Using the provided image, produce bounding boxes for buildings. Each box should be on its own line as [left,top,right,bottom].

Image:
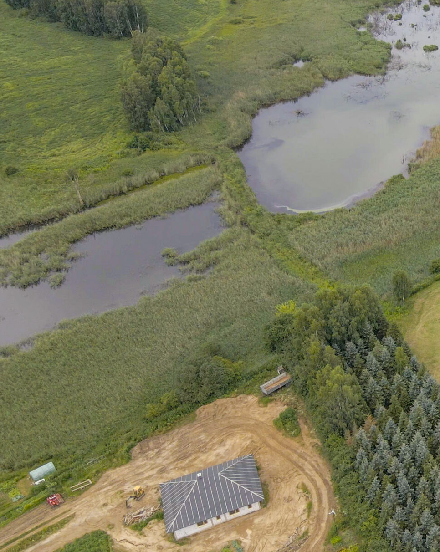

[160,453,263,539]
[25,462,58,488]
